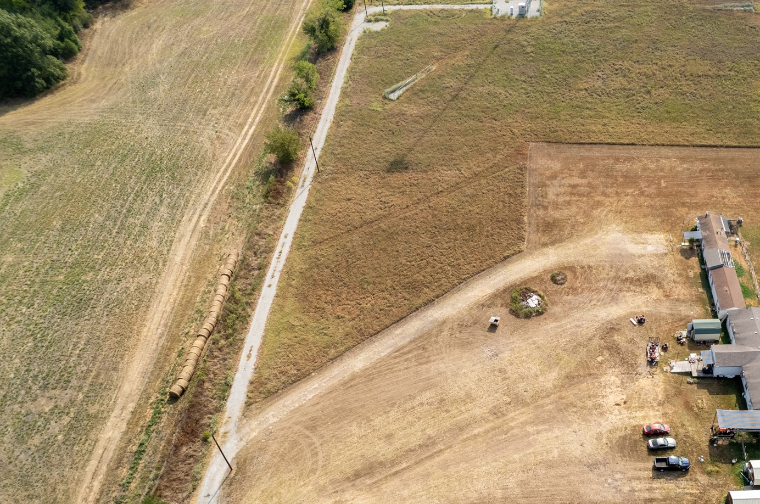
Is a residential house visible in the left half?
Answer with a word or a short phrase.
No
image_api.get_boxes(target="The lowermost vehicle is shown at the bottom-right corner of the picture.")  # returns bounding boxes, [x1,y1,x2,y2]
[653,459,691,474]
